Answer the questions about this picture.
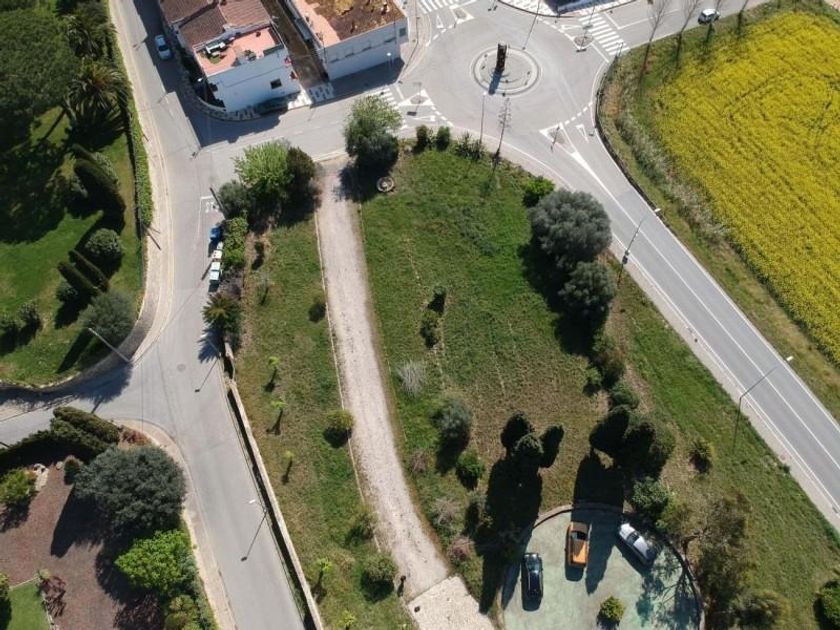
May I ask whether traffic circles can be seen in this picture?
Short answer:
Yes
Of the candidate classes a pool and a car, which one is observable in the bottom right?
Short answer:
car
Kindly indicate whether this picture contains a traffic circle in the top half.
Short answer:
Yes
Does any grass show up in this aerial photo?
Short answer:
Yes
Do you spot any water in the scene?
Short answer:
No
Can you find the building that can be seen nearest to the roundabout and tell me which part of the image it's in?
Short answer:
top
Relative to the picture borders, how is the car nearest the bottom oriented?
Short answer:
up and down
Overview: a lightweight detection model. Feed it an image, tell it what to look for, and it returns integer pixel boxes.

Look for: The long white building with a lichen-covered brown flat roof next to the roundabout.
[275,0,409,80]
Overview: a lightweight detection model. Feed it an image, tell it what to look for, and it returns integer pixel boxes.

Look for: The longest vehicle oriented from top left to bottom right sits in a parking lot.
[617,522,658,565]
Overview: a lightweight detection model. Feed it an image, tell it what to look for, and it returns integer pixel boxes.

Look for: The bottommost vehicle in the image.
[522,553,542,598]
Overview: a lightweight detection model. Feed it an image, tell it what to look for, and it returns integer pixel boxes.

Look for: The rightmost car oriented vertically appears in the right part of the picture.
[568,523,590,568]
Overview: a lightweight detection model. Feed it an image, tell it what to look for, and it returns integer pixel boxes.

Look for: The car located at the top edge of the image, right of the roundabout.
[696,9,722,25]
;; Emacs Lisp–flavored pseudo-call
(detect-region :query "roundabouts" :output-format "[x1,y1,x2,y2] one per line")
[421,13,594,136]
